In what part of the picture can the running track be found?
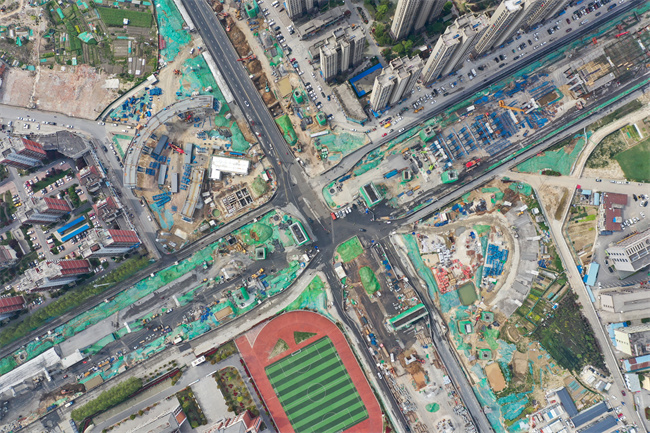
bottom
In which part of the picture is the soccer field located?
bottom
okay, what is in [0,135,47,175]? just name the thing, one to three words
building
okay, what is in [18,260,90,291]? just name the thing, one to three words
building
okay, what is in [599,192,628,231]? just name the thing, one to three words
house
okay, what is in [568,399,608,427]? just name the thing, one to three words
shed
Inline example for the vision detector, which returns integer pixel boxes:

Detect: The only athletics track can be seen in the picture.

[234,310,383,433]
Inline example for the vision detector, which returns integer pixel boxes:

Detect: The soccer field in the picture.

[265,336,368,433]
